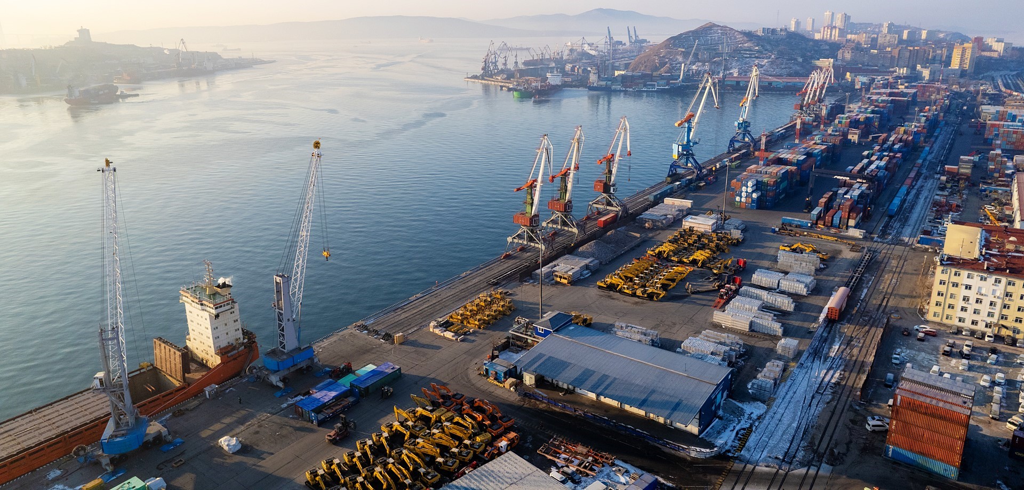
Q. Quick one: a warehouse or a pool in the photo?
warehouse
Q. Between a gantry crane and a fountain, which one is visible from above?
gantry crane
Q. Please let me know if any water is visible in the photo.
Yes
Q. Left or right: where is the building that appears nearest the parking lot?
right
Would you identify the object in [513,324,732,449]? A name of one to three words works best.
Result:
warehouse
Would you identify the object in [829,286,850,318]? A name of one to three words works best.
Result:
rail car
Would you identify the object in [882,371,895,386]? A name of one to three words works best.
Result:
vehicle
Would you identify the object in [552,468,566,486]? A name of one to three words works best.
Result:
car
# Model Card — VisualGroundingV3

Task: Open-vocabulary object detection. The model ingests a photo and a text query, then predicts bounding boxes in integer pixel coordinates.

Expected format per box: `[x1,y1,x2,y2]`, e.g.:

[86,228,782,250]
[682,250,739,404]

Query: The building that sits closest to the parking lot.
[927,251,1024,340]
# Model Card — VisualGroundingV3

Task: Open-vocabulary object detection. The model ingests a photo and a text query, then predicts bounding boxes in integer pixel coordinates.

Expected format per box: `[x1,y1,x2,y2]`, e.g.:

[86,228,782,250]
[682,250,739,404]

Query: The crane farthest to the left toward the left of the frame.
[65,162,175,474]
